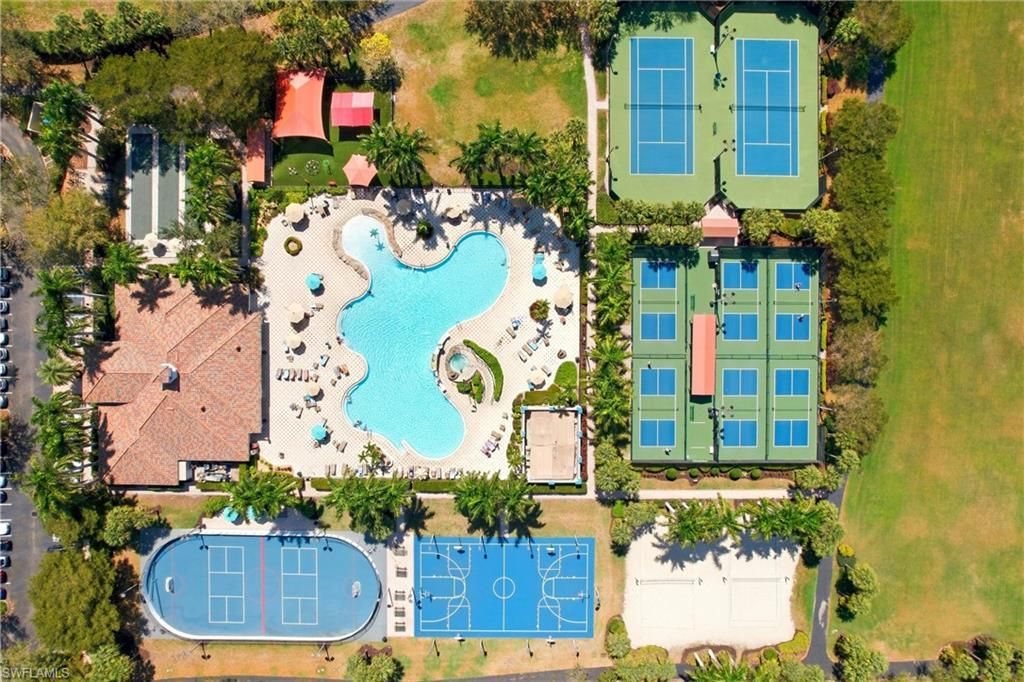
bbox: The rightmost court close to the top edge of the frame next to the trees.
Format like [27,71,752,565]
[718,5,819,209]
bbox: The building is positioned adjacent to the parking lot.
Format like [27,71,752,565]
[81,283,265,485]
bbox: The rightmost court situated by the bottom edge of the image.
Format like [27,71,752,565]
[623,518,802,654]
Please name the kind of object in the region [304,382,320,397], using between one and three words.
umbrella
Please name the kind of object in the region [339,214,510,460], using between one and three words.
swimming pool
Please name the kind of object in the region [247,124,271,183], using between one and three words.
shed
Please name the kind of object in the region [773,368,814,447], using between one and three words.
sports court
